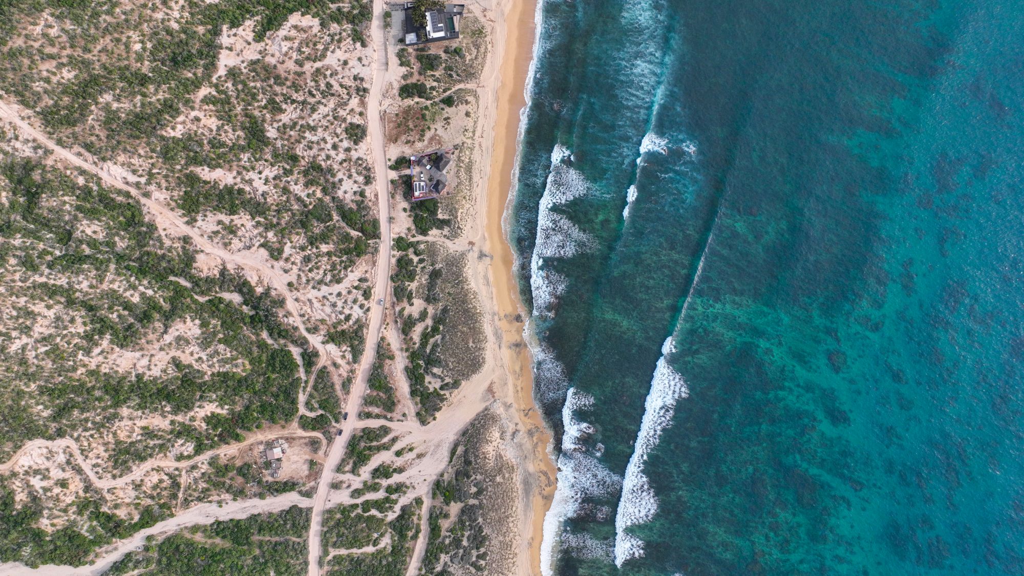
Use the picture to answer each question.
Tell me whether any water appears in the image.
Yes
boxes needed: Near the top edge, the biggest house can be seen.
[426,9,447,40]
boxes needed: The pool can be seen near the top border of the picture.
[446,13,461,36]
